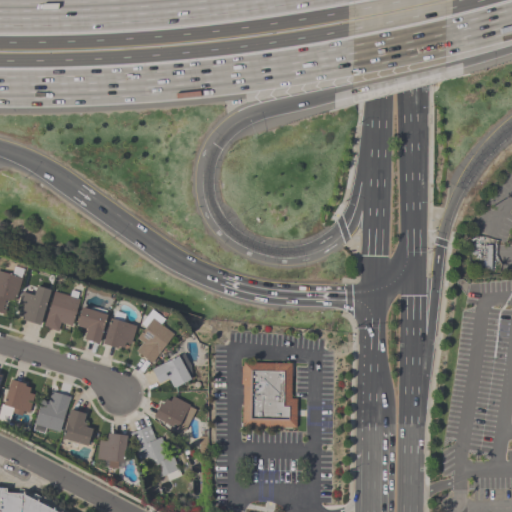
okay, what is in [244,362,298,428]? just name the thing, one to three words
building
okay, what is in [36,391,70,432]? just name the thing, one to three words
house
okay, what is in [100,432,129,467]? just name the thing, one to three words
house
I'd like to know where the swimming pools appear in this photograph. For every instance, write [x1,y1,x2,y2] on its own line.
[120,304,138,322]
[88,296,108,306]
[125,460,138,482]
[71,446,92,459]
[190,417,199,440]
[188,342,198,361]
